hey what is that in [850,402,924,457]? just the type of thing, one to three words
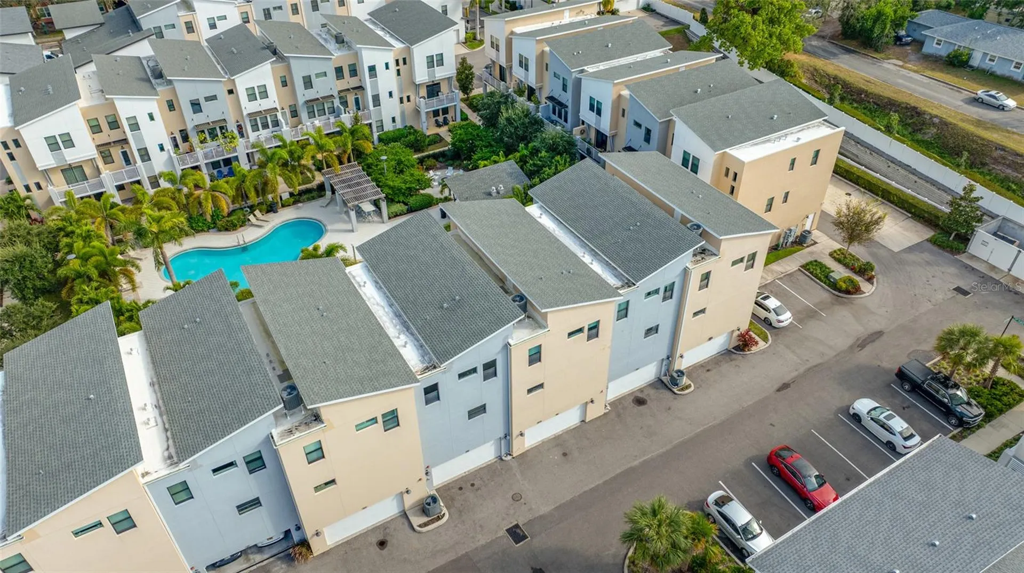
car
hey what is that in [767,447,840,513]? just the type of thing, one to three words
car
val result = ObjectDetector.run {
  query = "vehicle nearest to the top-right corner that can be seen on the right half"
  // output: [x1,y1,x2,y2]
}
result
[975,88,1019,109]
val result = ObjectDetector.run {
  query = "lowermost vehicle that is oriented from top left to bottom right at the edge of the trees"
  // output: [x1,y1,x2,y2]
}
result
[704,490,773,558]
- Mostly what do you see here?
buildings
